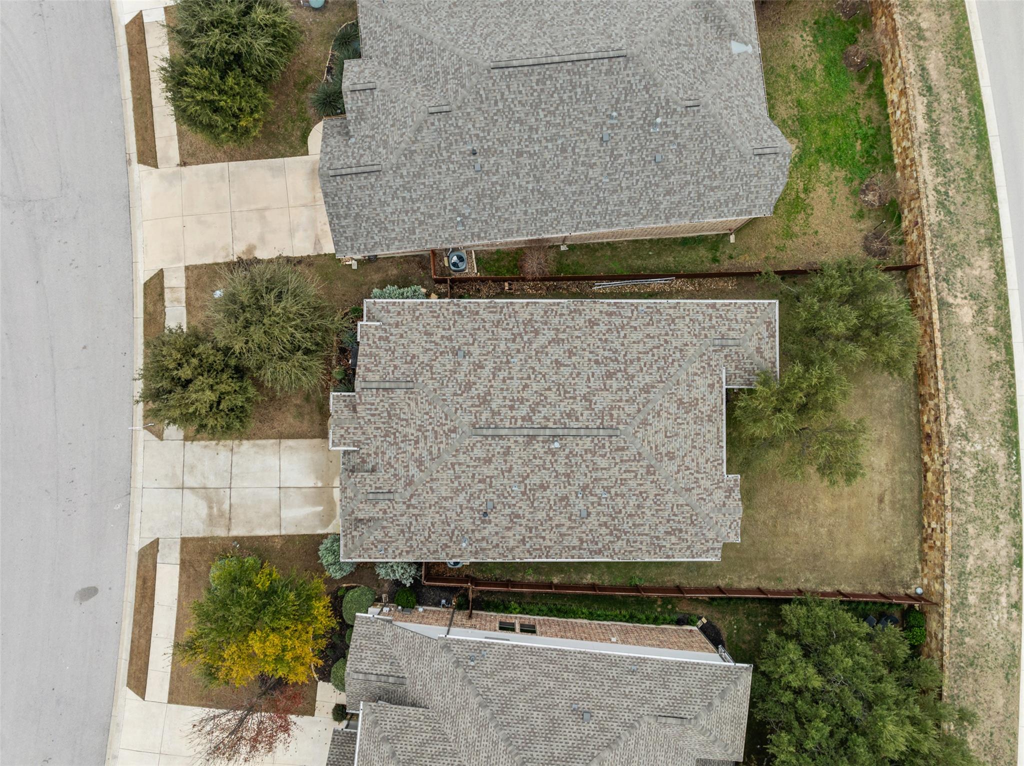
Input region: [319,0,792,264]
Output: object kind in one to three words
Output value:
house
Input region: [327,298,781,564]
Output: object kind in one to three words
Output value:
house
